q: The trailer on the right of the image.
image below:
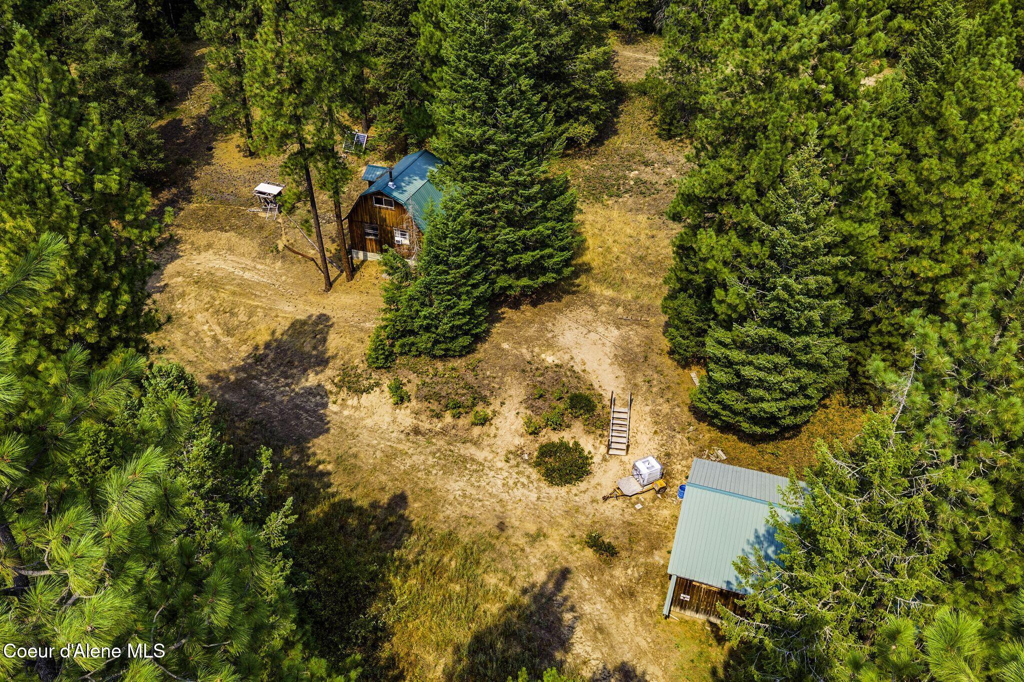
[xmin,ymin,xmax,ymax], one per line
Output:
[599,466,667,503]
